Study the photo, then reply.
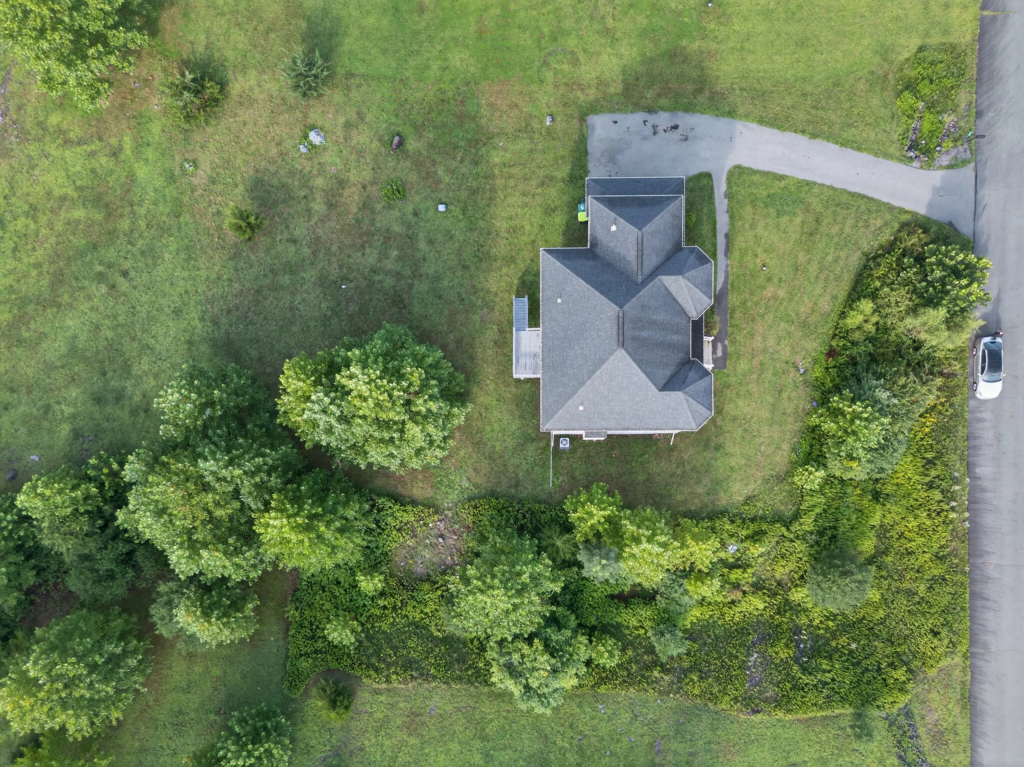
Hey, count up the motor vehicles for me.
1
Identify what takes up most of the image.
grass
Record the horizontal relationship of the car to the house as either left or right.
to its right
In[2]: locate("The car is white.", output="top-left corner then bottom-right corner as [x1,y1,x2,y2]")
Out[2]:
[971,336,1008,401]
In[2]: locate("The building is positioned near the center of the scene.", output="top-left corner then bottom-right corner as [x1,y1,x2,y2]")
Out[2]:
[513,175,716,446]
